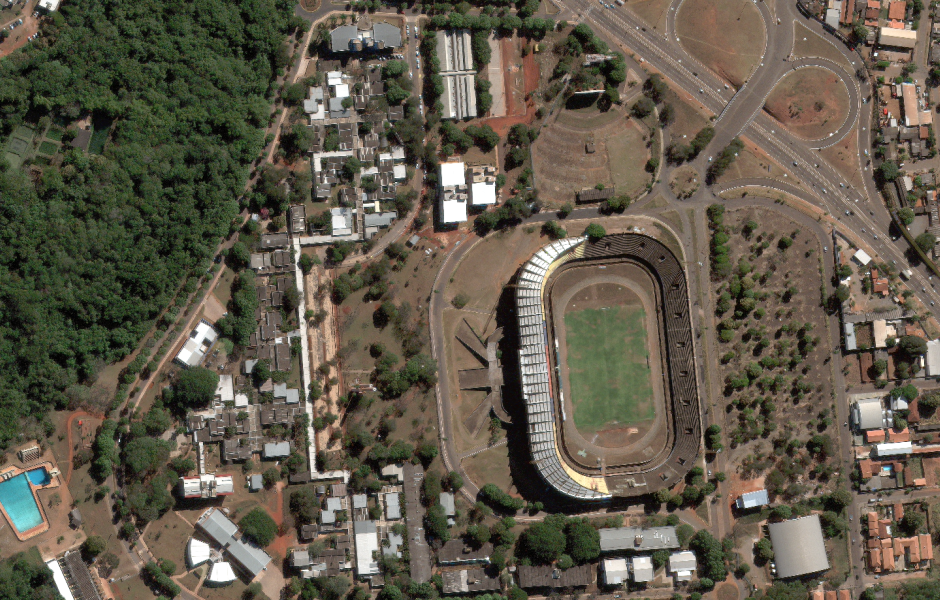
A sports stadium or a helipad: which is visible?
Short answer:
sports stadium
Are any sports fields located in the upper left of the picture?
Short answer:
No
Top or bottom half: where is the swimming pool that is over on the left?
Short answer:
bottom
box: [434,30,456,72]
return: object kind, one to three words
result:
shed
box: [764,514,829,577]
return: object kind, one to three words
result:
building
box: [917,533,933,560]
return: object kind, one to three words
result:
house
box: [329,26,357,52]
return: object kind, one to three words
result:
building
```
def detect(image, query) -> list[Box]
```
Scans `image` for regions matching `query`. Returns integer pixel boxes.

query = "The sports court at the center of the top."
[487,39,506,118]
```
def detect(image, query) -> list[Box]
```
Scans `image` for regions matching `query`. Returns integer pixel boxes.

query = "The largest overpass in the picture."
[711,80,768,146]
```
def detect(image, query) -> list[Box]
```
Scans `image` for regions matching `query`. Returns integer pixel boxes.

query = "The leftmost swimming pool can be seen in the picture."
[0,461,61,540]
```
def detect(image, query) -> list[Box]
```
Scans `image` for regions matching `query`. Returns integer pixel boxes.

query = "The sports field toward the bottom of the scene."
[551,264,666,467]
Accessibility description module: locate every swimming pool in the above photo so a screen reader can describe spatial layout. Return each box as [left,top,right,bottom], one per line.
[0,461,61,540]
[881,464,895,475]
